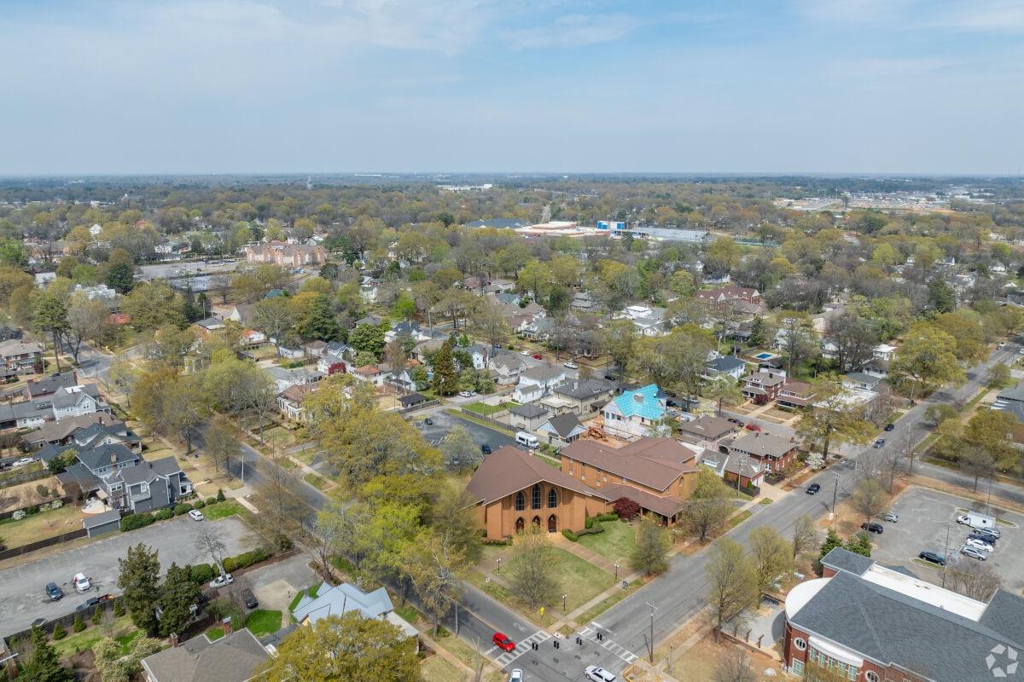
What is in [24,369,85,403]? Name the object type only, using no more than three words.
house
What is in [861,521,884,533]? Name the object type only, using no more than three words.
vehicle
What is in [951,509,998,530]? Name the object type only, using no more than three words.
truck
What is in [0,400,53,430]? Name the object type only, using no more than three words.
house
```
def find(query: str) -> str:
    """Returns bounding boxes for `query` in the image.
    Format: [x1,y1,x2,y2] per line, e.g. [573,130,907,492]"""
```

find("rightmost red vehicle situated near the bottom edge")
[492,631,517,652]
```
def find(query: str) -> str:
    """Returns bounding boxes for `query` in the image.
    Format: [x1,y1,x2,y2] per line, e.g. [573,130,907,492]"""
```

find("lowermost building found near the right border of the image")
[774,545,1024,682]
